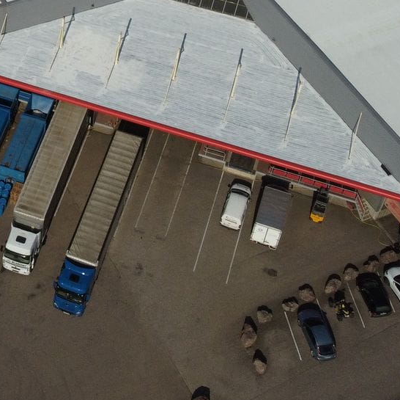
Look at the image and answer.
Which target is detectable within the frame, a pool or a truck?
truck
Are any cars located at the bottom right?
Yes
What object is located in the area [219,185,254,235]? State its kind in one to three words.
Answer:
van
